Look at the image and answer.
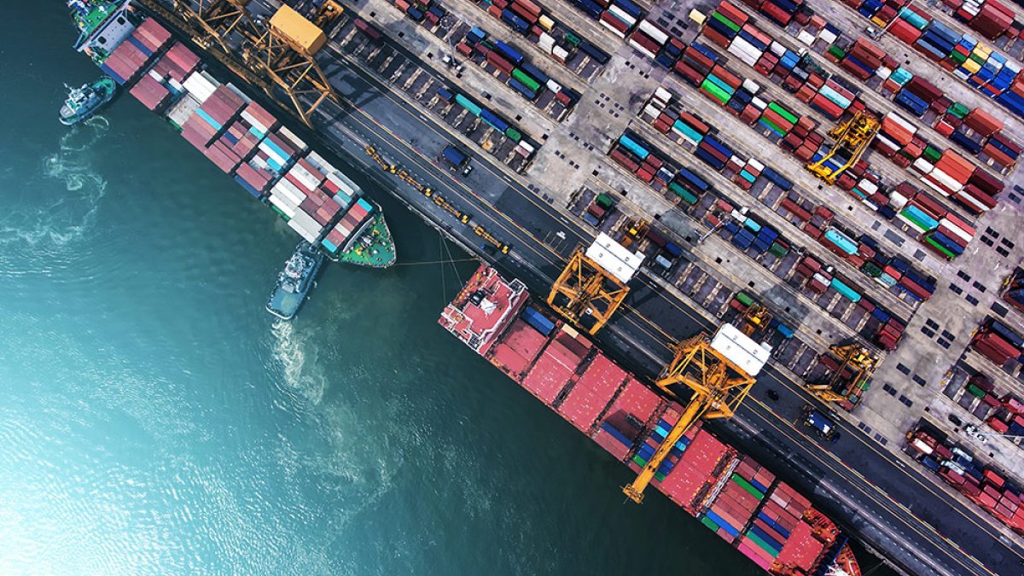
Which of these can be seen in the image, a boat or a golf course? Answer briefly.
boat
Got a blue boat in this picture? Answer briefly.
Yes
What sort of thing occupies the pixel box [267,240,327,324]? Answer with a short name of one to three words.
boat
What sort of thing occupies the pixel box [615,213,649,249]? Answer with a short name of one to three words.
container crane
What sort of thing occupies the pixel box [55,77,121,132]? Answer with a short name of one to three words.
boat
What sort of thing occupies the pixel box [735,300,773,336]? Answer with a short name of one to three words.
container crane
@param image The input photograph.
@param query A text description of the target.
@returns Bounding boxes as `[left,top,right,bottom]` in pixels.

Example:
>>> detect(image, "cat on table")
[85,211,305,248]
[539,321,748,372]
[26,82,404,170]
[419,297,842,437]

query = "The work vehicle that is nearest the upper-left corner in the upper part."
[361,145,399,175]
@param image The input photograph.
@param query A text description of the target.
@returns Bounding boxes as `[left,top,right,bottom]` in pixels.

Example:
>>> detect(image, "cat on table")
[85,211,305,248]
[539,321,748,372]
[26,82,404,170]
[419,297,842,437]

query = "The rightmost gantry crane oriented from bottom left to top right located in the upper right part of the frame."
[805,112,879,185]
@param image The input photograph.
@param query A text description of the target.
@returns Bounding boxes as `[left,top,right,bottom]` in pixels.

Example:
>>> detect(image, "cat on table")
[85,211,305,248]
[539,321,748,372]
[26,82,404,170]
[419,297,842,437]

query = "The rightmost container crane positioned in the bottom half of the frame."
[804,343,879,403]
